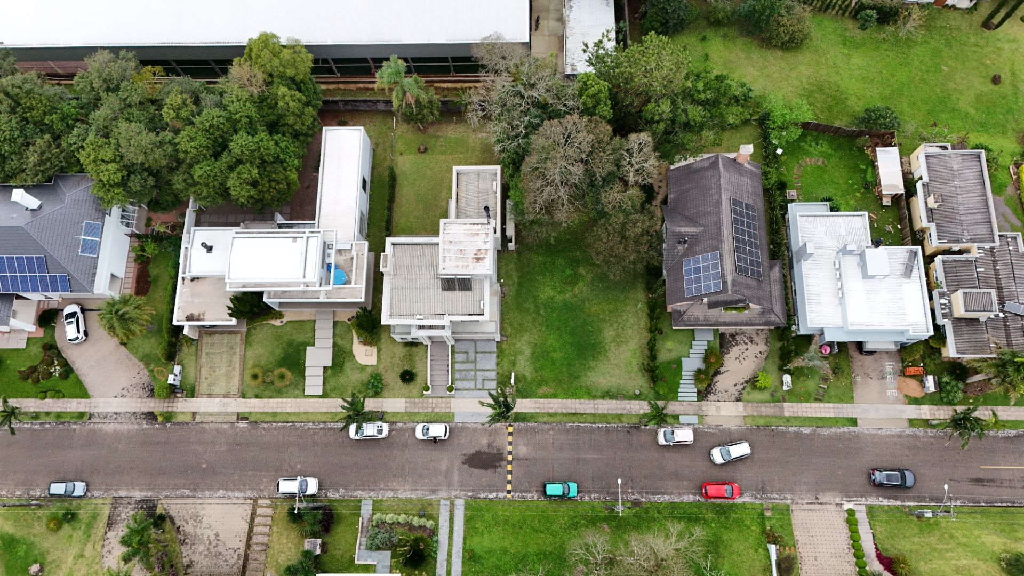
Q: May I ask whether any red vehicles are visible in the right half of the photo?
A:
Yes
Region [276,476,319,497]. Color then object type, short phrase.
white car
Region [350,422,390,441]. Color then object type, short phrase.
white car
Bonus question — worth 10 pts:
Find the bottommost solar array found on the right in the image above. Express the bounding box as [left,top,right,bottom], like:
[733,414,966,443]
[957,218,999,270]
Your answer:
[682,251,723,297]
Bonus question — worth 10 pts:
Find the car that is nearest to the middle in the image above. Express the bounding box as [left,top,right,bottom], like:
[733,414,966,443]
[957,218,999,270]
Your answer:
[416,422,450,441]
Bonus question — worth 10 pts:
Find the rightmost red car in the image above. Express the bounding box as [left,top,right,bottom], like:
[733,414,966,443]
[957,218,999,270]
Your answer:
[700,481,741,501]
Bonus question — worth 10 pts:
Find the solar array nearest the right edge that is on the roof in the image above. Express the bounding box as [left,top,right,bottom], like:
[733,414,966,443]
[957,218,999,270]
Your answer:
[730,197,762,280]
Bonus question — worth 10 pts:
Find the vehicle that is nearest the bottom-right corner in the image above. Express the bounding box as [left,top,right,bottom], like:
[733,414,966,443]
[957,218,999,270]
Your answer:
[866,468,914,489]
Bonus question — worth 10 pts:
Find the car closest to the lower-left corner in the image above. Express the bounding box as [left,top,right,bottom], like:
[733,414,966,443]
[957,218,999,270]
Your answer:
[49,480,89,499]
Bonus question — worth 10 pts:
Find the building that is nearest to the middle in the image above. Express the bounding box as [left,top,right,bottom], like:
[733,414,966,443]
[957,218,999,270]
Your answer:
[379,166,503,345]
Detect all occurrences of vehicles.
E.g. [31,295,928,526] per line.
[700,481,741,501]
[860,339,879,360]
[63,306,86,342]
[350,422,390,441]
[656,427,693,446]
[866,468,914,489]
[276,476,319,497]
[49,480,89,499]
[416,422,450,441]
[708,439,753,466]
[543,481,578,500]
